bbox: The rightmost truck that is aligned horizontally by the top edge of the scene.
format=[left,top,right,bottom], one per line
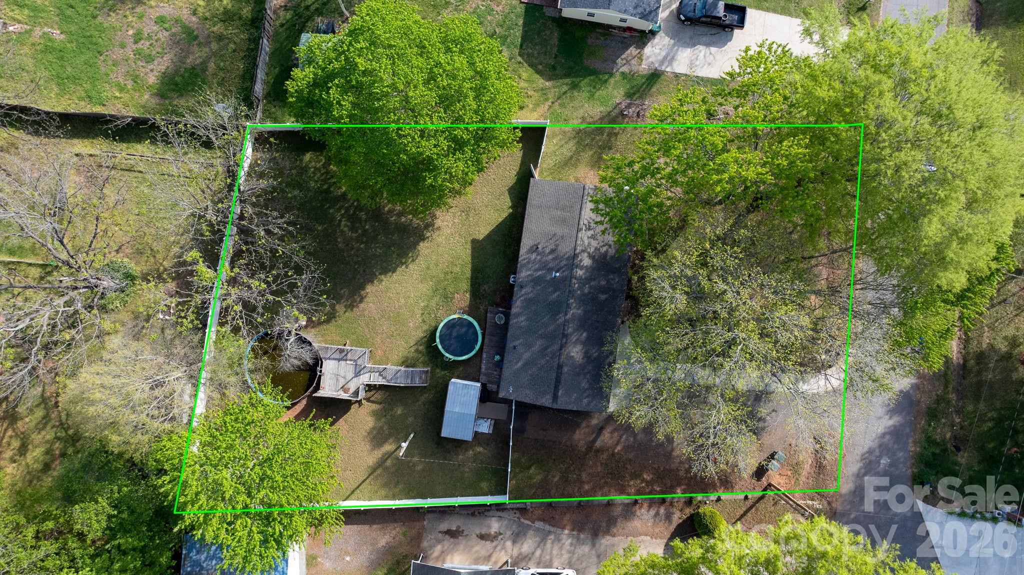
[675,0,750,32]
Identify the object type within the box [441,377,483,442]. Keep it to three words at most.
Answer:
shed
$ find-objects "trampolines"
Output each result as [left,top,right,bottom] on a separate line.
[430,312,484,365]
